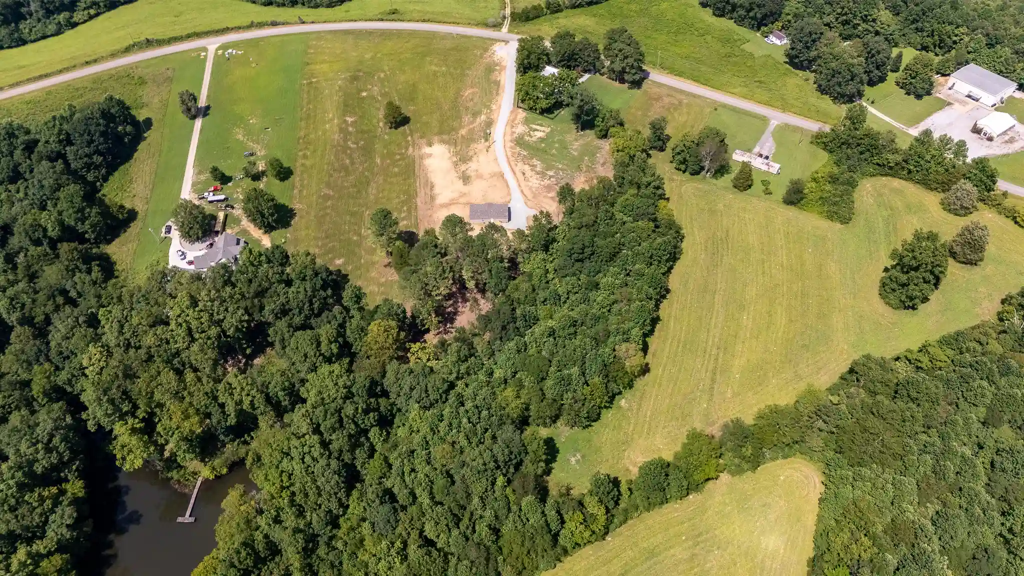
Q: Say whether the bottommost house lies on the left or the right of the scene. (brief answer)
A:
left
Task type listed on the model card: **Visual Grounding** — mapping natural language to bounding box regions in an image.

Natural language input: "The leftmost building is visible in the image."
[193,234,243,272]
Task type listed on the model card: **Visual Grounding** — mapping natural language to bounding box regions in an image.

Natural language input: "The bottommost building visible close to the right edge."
[977,110,1017,139]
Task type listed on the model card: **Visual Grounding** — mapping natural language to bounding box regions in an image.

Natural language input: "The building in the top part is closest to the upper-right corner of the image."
[946,61,1010,106]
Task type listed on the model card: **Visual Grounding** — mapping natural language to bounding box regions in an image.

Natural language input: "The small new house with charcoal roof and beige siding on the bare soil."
[470,201,508,226]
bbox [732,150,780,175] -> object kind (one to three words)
house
